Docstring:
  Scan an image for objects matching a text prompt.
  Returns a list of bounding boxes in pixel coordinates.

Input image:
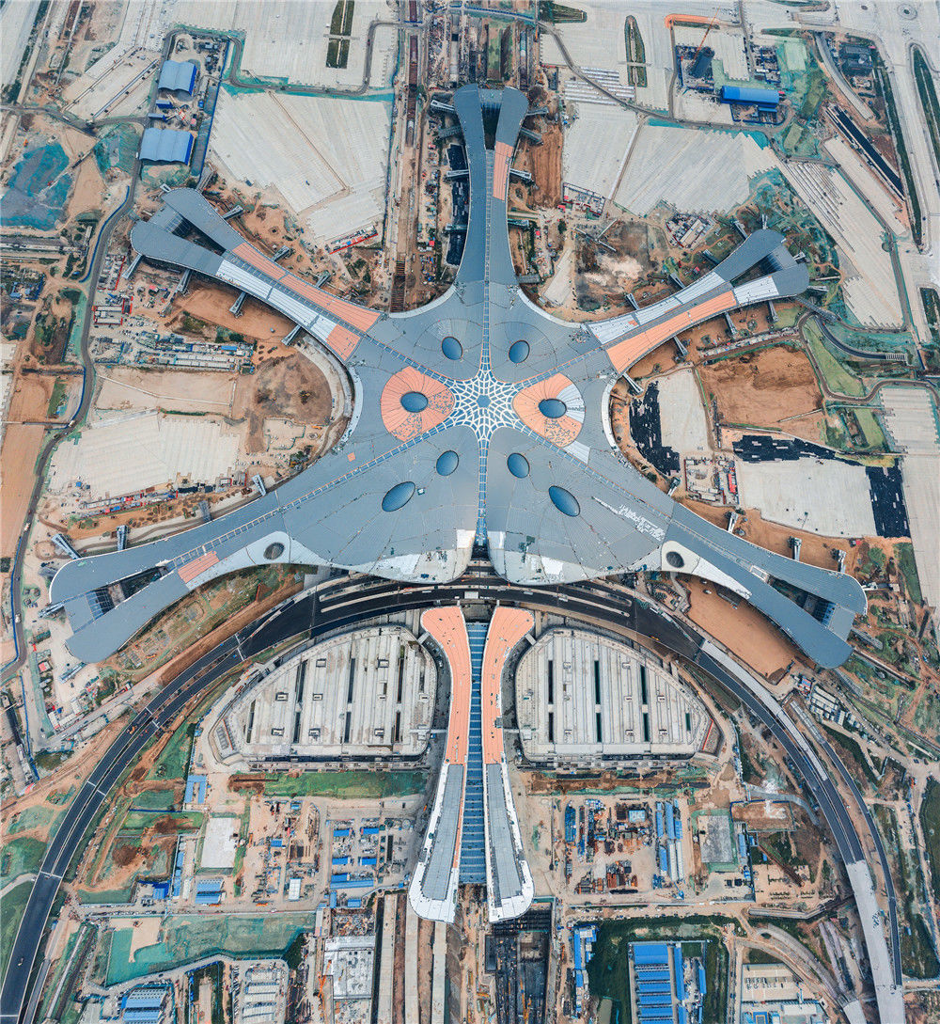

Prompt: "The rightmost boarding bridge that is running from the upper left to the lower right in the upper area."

[793,295,837,324]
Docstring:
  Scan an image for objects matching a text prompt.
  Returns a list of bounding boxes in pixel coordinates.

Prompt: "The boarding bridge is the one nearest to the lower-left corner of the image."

[57,660,87,685]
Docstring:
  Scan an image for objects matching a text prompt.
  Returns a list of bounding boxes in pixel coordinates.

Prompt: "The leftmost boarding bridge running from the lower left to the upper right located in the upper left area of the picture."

[120,254,142,283]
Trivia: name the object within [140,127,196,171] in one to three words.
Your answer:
hangar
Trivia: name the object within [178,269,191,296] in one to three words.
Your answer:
jet bridge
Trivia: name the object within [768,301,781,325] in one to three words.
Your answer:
jet bridge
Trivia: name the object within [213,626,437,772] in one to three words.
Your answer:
building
